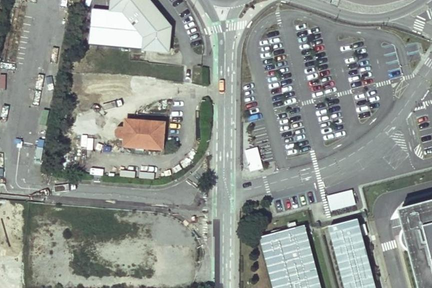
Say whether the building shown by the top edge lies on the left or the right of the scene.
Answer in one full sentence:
The building shown by the top edge sits on the left side.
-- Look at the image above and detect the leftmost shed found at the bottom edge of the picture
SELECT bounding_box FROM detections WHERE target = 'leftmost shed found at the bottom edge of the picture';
[260,226,320,288]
